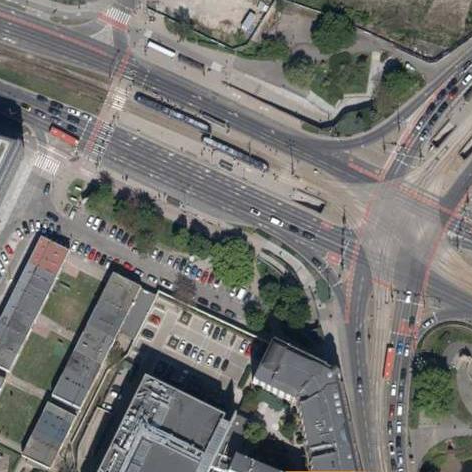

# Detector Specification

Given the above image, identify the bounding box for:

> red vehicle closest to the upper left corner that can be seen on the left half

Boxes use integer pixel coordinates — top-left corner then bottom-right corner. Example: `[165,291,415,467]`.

[49,126,79,145]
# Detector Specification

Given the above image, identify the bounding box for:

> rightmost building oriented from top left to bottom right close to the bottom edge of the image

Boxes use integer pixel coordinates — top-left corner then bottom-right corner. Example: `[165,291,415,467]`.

[252,335,364,472]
